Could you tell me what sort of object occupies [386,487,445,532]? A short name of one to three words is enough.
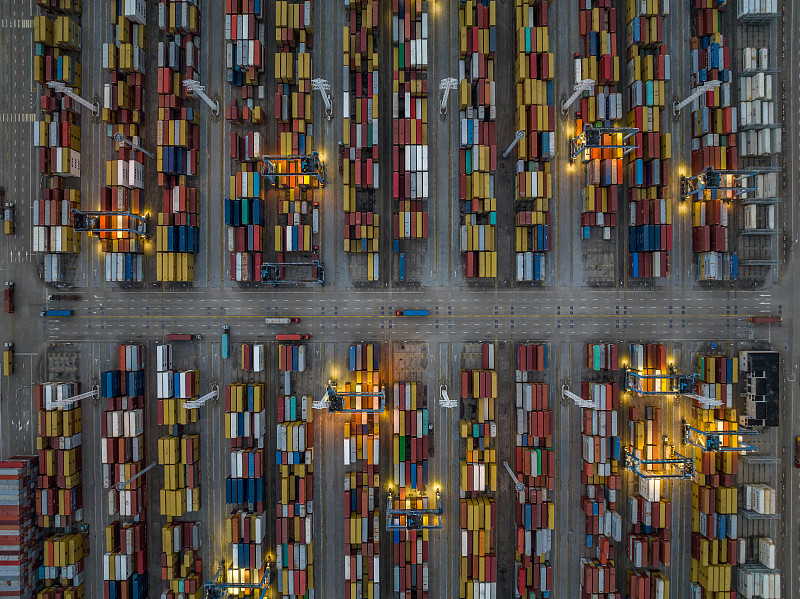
container crane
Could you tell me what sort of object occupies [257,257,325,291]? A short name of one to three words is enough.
container crane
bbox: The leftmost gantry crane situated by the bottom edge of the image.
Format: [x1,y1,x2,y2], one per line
[203,558,270,599]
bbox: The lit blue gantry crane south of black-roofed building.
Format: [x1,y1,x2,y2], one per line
[683,413,762,453]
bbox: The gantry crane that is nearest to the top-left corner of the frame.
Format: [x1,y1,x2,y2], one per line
[66,204,146,245]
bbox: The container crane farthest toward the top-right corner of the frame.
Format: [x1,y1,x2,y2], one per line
[683,162,762,205]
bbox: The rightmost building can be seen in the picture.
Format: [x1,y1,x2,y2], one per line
[735,350,777,426]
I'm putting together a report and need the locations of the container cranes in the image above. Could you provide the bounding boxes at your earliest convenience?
[259,148,325,190]
[386,487,445,532]
[325,376,388,415]
[66,204,146,245]
[624,360,700,399]
[203,558,270,599]
[257,257,325,291]
[683,162,762,205]
[683,413,762,453]
[571,121,641,166]
[625,441,700,482]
